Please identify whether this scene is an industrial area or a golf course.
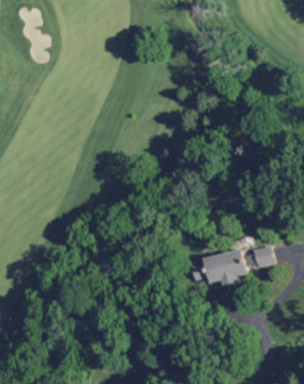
golf course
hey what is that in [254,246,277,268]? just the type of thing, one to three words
building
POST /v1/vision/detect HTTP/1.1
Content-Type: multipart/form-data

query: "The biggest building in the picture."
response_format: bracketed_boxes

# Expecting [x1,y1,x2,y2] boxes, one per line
[202,252,249,284]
